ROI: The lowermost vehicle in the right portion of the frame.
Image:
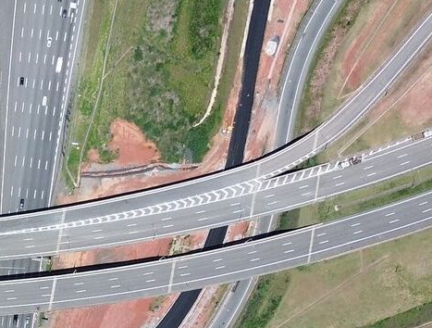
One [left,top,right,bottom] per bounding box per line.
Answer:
[340,155,362,167]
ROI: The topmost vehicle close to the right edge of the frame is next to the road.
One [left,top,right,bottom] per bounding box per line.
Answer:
[411,128,432,141]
